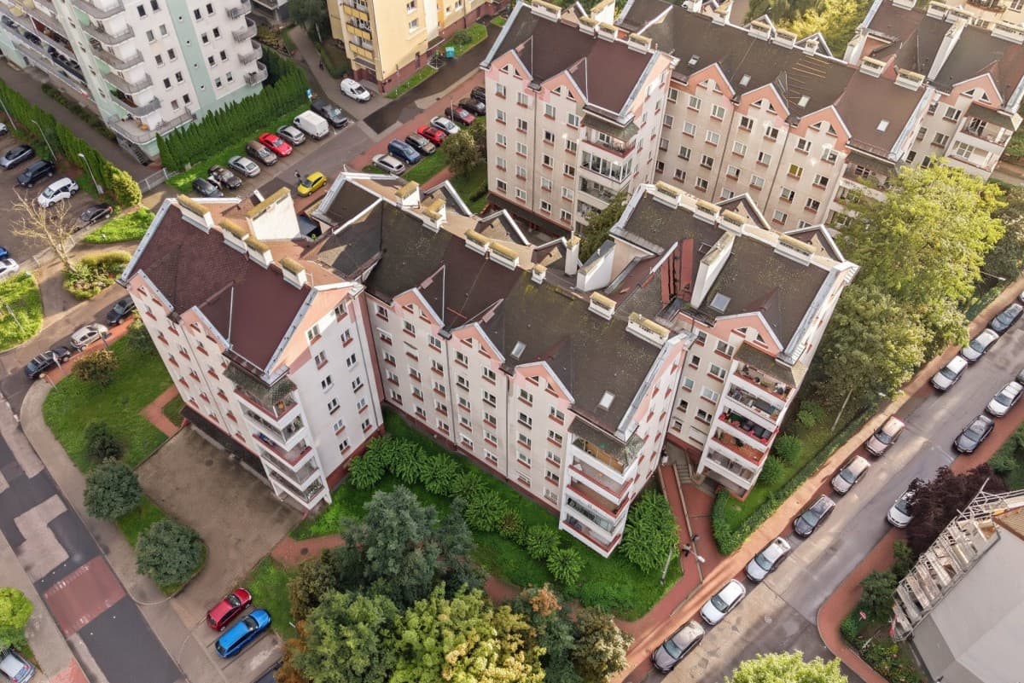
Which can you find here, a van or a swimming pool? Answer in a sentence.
The image shows a van.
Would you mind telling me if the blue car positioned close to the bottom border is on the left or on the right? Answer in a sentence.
The blue car positioned close to the bottom border is on the left side of the image.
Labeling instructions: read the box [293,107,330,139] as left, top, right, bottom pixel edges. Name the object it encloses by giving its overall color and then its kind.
white van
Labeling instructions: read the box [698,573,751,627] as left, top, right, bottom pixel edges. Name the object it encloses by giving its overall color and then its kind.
white car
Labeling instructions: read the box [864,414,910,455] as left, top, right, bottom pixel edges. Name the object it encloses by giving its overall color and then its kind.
gray car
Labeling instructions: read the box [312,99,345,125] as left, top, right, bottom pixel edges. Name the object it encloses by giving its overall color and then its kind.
gray car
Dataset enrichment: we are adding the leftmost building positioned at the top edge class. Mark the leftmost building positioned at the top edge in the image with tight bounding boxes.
[0,0,269,159]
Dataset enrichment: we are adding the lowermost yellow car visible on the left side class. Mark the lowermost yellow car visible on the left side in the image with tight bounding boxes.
[294,168,331,196]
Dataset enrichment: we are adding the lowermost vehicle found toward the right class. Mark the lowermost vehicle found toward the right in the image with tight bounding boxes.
[651,617,705,674]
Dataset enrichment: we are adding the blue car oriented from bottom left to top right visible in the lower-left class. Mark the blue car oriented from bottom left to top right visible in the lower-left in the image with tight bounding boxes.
[212,609,274,661]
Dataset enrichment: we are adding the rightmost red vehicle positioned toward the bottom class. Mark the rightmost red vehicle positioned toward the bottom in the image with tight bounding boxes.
[202,587,256,634]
